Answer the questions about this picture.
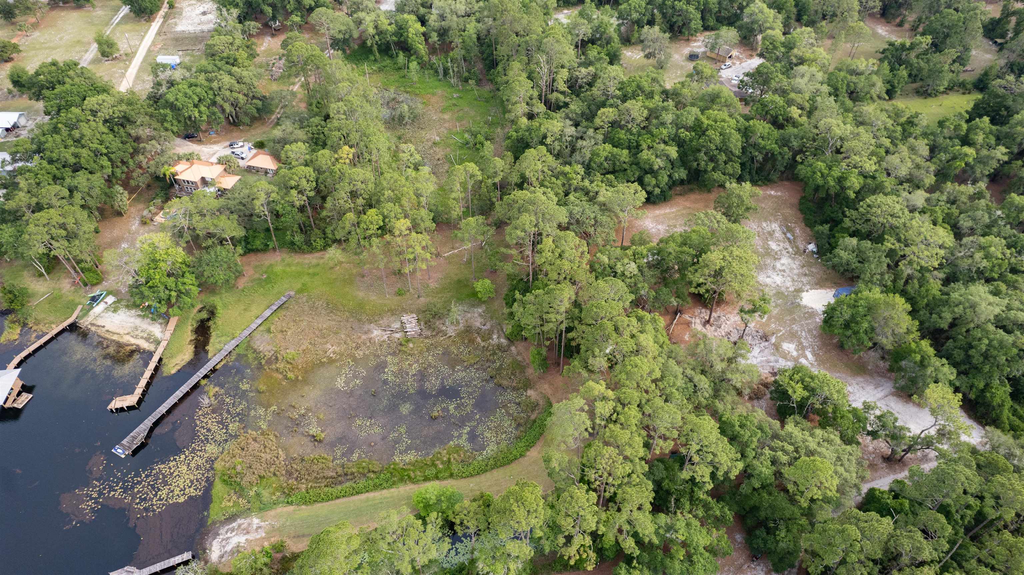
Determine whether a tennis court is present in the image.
No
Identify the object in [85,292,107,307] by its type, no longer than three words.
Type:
boat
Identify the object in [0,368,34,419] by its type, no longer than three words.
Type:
building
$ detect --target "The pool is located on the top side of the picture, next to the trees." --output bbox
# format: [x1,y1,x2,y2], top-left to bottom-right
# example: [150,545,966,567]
[148,211,175,227]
